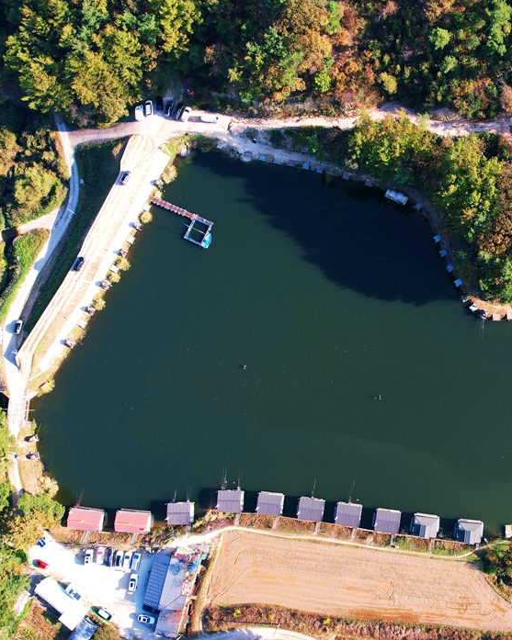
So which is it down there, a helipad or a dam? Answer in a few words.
dam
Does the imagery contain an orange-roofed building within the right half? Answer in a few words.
No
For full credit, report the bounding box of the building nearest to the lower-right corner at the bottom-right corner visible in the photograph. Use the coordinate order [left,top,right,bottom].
[455,515,484,543]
